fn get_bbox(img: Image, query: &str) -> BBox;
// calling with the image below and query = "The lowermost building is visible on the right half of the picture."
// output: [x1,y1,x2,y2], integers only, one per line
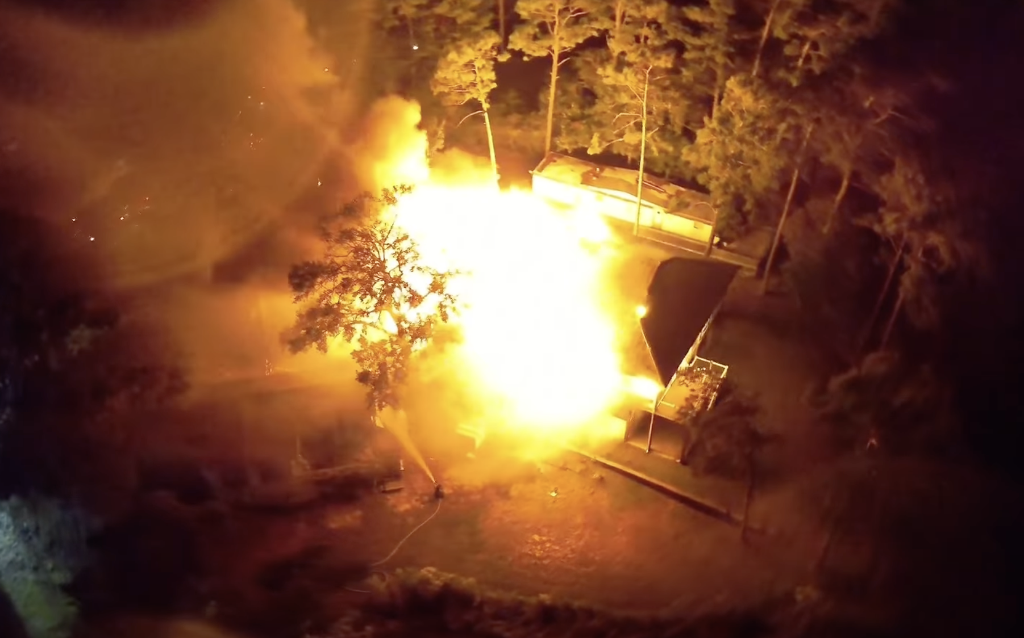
[583,256,742,466]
